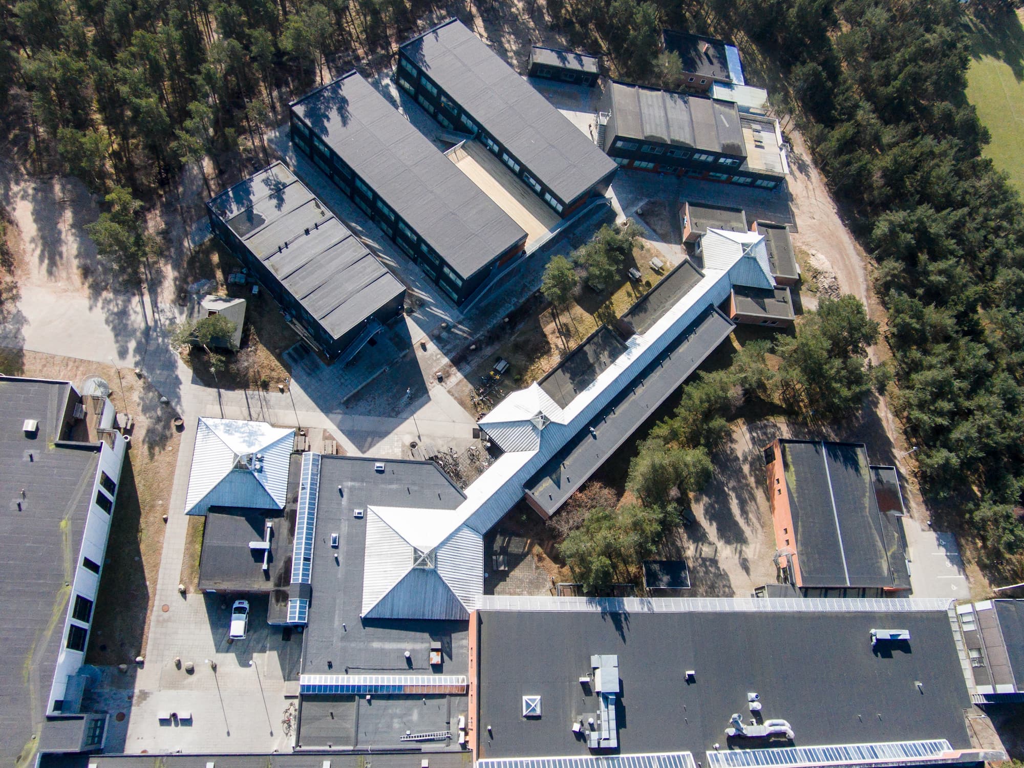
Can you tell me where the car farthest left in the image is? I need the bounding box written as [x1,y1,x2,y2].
[230,600,249,640]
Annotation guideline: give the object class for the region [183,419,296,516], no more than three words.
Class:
building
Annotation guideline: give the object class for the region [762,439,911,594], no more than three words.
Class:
building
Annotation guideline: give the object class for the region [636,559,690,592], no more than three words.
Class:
shed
